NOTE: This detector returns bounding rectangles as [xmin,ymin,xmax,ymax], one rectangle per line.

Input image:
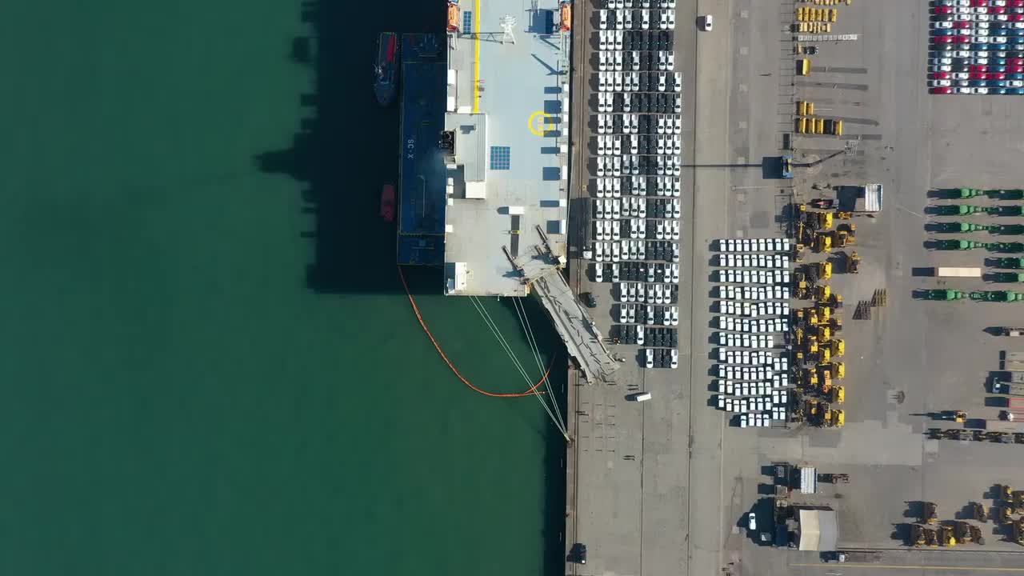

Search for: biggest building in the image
[796,507,838,551]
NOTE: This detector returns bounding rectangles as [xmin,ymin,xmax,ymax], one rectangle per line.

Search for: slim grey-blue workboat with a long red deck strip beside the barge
[375,33,399,107]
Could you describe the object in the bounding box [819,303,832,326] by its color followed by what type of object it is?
yellow vehicle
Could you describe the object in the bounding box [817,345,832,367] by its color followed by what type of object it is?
yellow work vehicle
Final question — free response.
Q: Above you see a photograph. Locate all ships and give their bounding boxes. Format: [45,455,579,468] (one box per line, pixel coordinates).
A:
[398,33,447,265]
[439,0,620,384]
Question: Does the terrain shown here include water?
Yes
